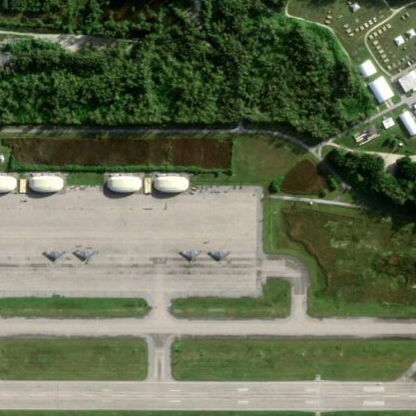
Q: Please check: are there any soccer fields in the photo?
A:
No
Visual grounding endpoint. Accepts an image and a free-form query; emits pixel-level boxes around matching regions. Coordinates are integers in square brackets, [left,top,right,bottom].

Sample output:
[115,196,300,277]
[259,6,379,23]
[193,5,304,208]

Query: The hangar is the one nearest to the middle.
[154,174,188,192]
